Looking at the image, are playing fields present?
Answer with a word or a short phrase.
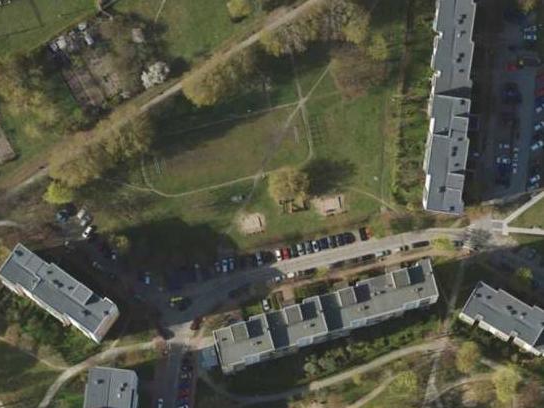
Yes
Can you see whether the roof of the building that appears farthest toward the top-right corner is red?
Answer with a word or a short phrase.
No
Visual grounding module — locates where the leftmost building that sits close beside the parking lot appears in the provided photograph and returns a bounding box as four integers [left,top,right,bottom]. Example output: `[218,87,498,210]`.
[214,259,444,376]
